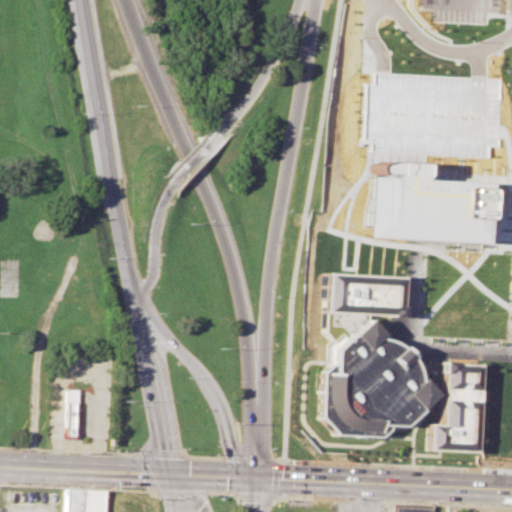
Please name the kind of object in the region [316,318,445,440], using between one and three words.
building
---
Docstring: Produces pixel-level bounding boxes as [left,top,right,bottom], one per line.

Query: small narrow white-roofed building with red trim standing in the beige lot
[64,389,81,438]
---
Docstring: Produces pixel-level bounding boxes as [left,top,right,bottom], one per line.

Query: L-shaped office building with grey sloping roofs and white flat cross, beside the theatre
[426,362,486,450]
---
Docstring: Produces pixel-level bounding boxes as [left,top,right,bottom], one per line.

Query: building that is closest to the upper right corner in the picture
[360,163,512,245]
